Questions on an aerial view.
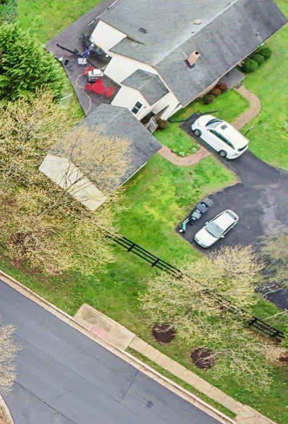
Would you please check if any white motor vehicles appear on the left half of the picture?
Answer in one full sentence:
No, I see no white motor vehicle on the left half of the picture.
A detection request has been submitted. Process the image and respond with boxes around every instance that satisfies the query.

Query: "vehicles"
[190,208,240,250]
[189,118,248,161]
